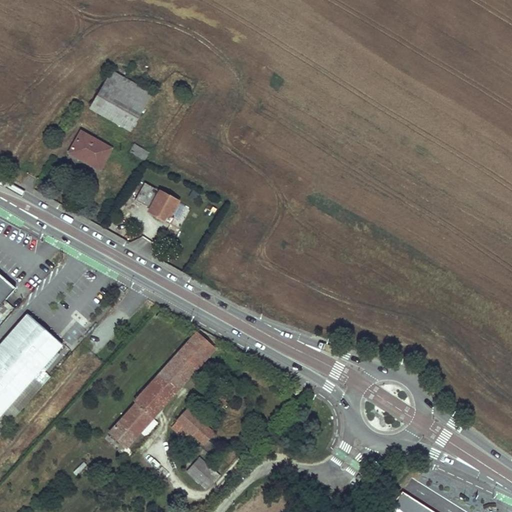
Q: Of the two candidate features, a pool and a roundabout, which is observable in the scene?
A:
roundabout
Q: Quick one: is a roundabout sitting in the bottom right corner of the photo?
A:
Yes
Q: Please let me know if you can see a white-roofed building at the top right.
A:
No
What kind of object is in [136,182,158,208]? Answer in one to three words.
building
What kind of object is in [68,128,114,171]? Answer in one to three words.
house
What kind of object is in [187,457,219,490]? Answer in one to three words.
house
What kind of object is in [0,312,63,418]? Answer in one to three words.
building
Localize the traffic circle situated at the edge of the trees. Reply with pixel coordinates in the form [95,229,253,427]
[360,380,416,435]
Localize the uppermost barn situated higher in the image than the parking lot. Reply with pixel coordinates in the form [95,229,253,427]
[90,72,152,132]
